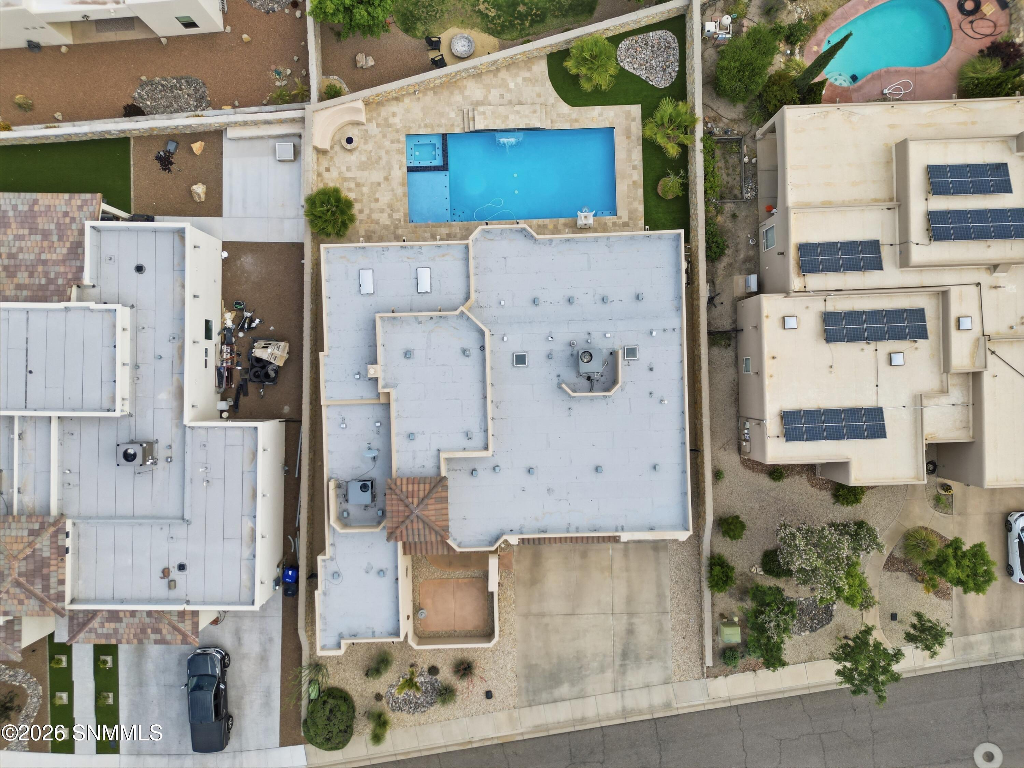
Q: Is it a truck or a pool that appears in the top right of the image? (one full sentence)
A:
Looking in the top right of the image, you will find a pool.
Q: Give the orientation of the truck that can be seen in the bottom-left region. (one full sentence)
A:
From this overhead view, the truck that can be seen in the bottom-left region appears to run vertically.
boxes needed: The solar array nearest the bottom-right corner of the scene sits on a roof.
[782,407,886,442]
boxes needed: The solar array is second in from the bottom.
[823,308,928,343]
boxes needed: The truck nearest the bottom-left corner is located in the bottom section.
[179,641,235,754]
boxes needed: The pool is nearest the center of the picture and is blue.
[405,127,617,223]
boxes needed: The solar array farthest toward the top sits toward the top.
[926,163,1012,197]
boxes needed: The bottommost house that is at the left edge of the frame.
[0,192,287,663]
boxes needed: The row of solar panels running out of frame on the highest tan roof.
[928,208,1024,242]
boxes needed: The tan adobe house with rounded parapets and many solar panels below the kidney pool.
[737,87,1024,488]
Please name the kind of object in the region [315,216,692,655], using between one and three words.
house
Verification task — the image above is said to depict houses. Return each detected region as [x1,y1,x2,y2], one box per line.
[0,0,224,41]
[737,87,1024,488]
[0,192,287,663]
[315,216,692,655]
